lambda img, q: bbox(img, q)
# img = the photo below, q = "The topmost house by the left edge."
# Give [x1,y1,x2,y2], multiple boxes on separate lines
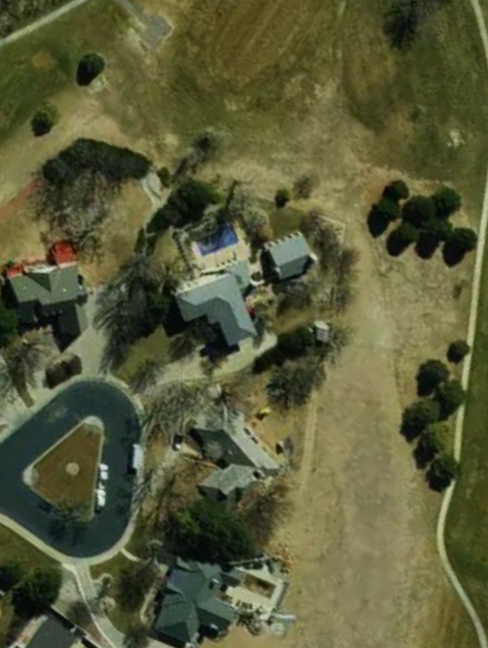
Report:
[10,261,90,337]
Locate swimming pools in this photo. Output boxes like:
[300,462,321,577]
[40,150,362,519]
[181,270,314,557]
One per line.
[241,572,278,599]
[196,222,240,258]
